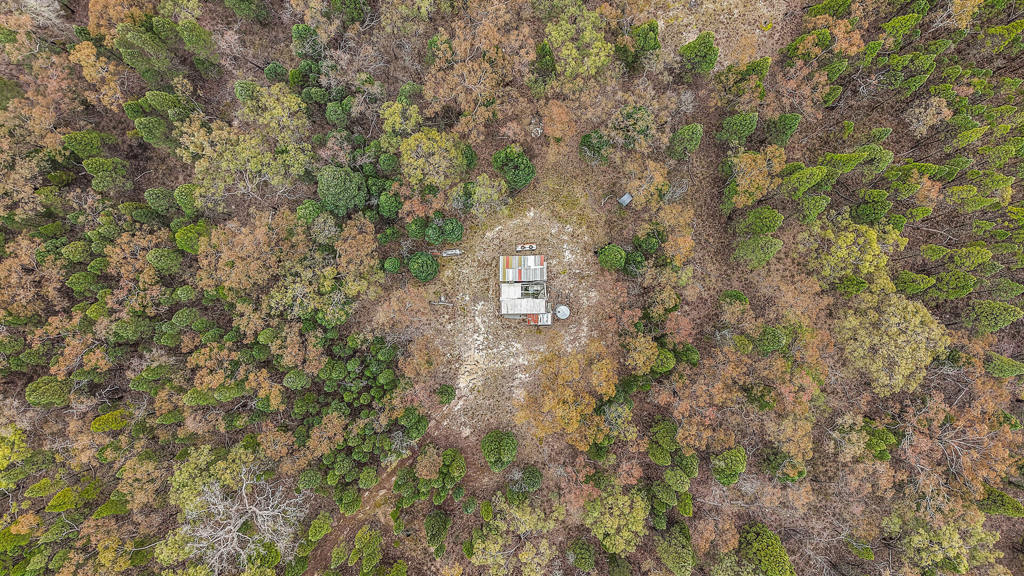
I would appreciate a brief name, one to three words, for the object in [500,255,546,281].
shed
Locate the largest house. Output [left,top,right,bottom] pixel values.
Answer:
[500,283,553,325]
